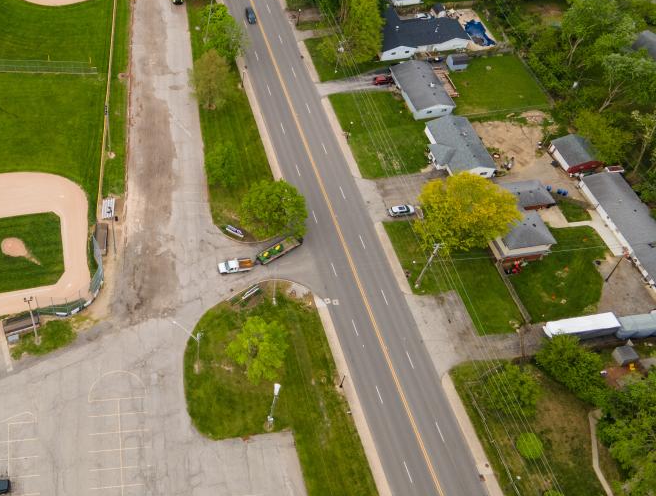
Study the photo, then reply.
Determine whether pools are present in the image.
Yes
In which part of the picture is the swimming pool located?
top right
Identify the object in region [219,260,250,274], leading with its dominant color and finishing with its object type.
white vehicle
